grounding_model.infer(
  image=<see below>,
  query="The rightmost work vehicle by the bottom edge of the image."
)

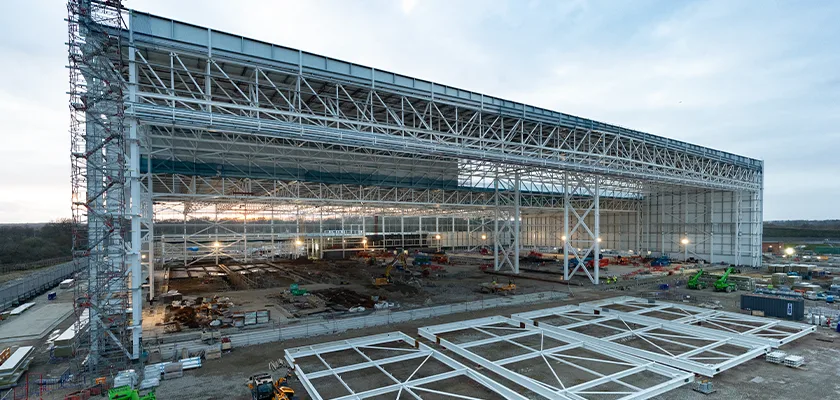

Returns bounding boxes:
[248,373,309,400]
